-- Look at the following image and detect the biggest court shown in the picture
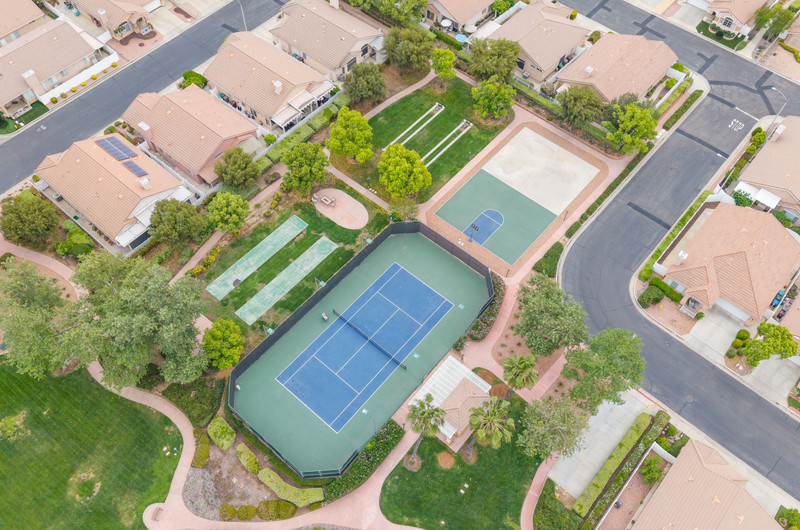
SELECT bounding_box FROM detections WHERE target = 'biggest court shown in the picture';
[232,231,495,478]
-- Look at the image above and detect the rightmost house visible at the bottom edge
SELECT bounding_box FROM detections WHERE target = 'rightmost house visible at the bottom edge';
[635,436,784,530]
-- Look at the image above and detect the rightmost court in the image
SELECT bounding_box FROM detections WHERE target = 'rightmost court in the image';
[435,129,598,265]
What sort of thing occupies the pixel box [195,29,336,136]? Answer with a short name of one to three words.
house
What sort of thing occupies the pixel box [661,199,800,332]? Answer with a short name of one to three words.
house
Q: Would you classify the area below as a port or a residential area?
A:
residential area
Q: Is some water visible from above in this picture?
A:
No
